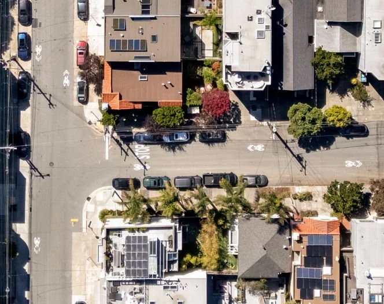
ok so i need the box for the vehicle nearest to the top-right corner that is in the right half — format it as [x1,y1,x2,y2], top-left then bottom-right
[341,125,368,138]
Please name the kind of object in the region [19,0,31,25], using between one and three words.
vehicle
